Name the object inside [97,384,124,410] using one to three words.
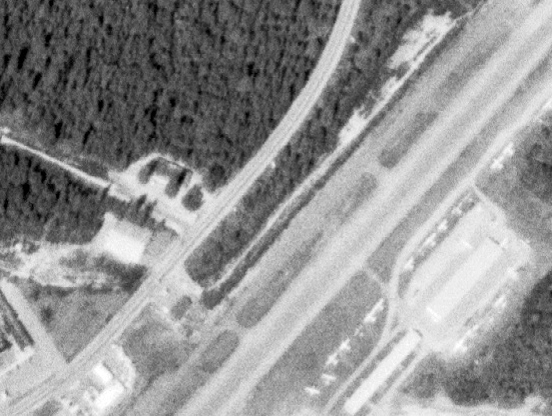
building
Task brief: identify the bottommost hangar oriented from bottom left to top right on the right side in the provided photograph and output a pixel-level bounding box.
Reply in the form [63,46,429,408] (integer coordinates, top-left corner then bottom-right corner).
[343,328,423,416]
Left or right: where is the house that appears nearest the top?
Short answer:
left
